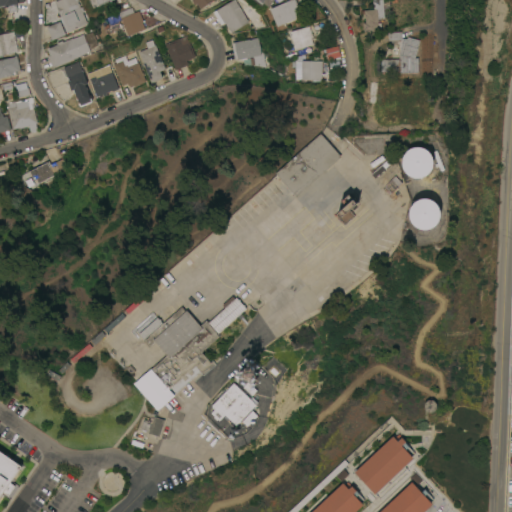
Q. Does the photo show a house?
Yes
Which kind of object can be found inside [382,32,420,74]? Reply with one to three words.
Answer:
house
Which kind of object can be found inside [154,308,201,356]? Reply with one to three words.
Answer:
building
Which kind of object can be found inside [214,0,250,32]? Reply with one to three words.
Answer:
house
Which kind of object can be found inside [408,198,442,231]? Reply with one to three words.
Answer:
storage tank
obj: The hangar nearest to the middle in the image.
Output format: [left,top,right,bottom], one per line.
[210,296,246,332]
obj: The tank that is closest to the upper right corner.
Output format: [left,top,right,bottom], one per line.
[402,146,434,180]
